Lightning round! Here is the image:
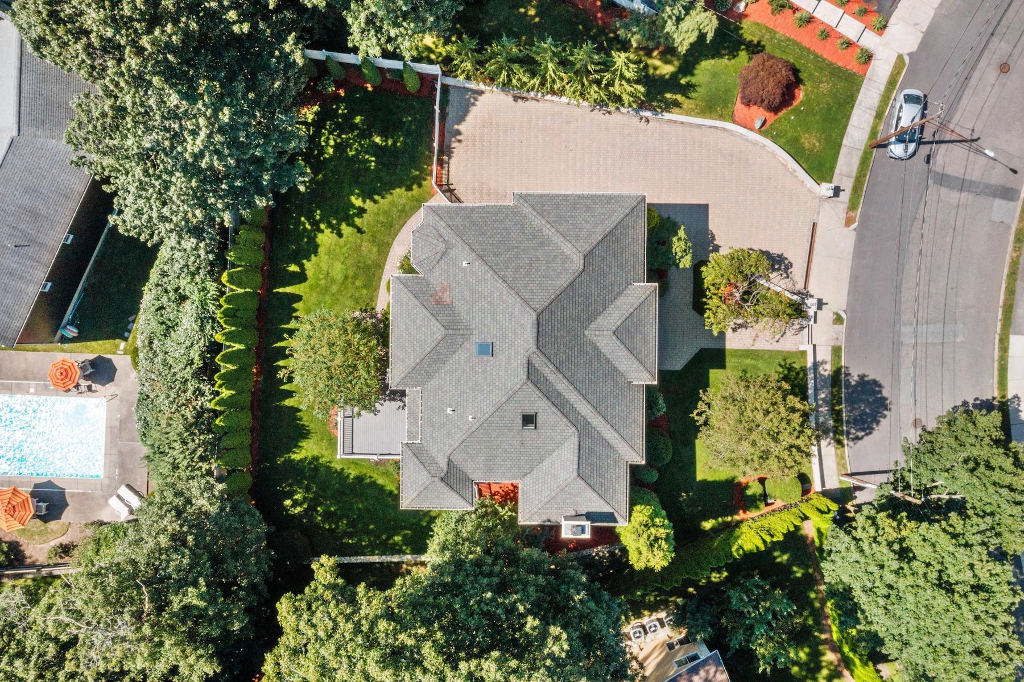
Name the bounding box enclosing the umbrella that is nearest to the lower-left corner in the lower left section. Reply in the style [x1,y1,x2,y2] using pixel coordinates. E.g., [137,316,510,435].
[0,485,38,530]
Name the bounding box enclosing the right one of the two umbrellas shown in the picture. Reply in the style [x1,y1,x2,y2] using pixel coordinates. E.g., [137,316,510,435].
[49,357,83,390]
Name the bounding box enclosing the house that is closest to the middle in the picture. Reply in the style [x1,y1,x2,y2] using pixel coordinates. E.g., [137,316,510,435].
[388,190,660,538]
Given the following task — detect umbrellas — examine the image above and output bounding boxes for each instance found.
[49,357,83,390]
[0,485,38,530]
